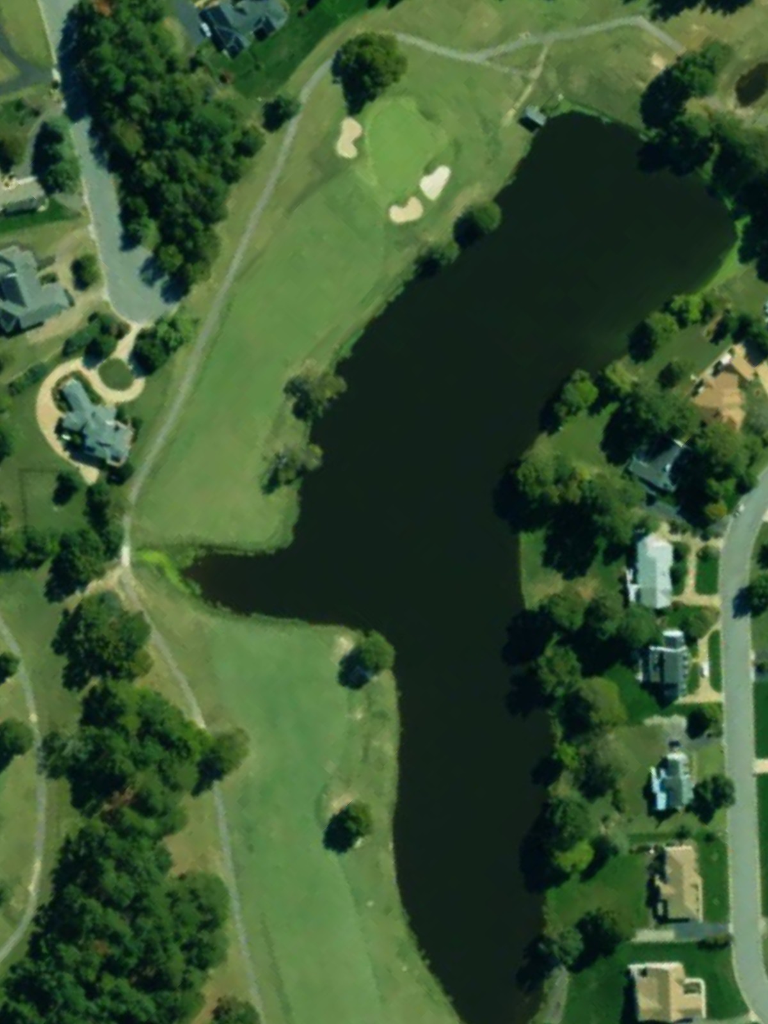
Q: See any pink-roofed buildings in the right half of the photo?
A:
No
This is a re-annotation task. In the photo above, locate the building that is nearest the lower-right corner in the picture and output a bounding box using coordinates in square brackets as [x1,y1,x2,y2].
[631,963,707,1024]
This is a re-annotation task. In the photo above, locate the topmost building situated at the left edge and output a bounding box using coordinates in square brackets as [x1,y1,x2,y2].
[0,171,46,214]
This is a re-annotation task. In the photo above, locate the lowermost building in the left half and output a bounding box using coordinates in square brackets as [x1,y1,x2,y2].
[57,374,138,467]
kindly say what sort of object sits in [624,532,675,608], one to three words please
house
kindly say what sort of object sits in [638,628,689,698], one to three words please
house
